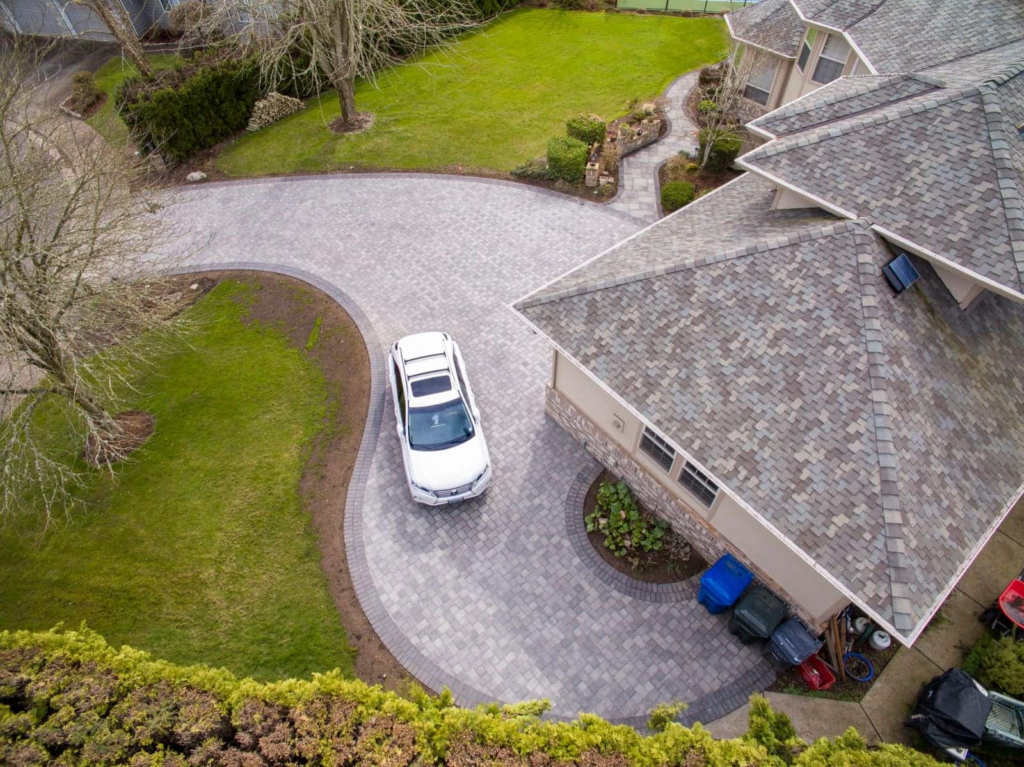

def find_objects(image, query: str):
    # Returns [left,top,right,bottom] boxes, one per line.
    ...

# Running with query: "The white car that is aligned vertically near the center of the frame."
[384,333,488,507]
